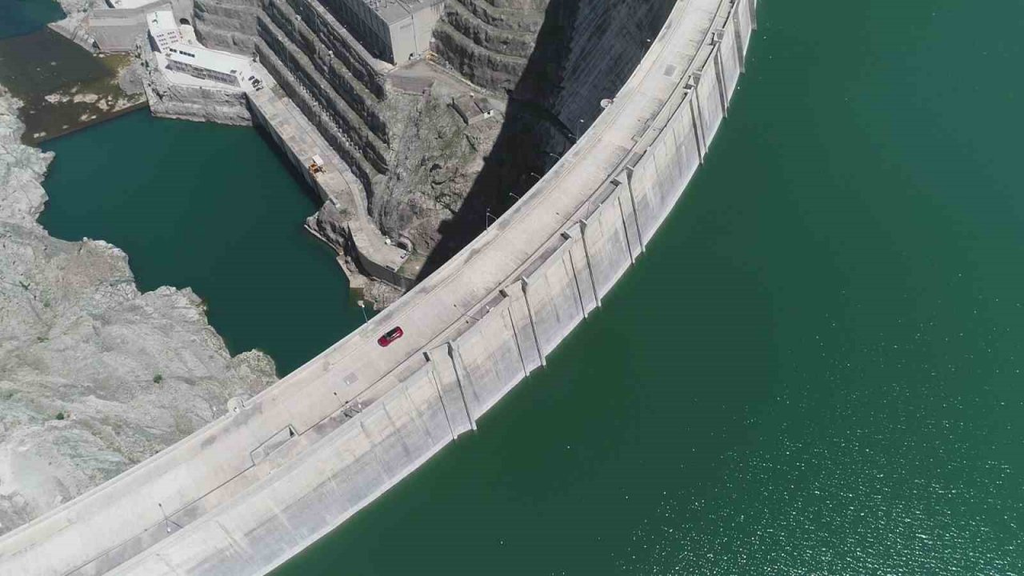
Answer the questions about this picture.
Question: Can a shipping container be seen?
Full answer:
No, the photo shows no shipping container.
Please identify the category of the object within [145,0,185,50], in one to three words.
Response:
building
